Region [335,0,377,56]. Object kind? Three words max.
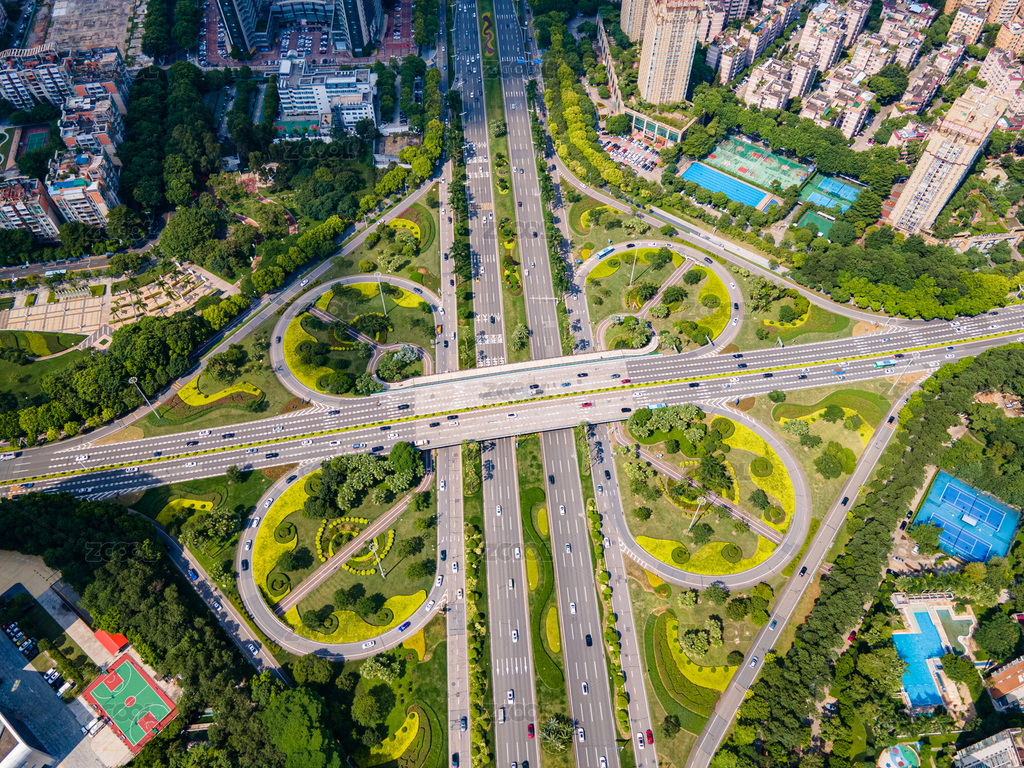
building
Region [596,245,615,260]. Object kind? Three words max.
vehicle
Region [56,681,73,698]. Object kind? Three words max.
vehicle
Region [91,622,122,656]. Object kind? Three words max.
shed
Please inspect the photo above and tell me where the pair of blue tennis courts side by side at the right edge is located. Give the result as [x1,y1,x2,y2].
[913,466,1024,563]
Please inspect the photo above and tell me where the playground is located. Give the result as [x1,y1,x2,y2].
[879,745,920,768]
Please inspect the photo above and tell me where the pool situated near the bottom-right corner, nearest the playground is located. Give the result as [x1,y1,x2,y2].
[890,592,979,726]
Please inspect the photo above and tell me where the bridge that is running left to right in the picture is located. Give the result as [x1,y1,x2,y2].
[377,345,657,455]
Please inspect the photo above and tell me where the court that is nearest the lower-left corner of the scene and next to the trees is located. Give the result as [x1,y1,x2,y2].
[81,653,178,754]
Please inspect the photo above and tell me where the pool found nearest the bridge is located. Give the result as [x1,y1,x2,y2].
[671,156,783,214]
